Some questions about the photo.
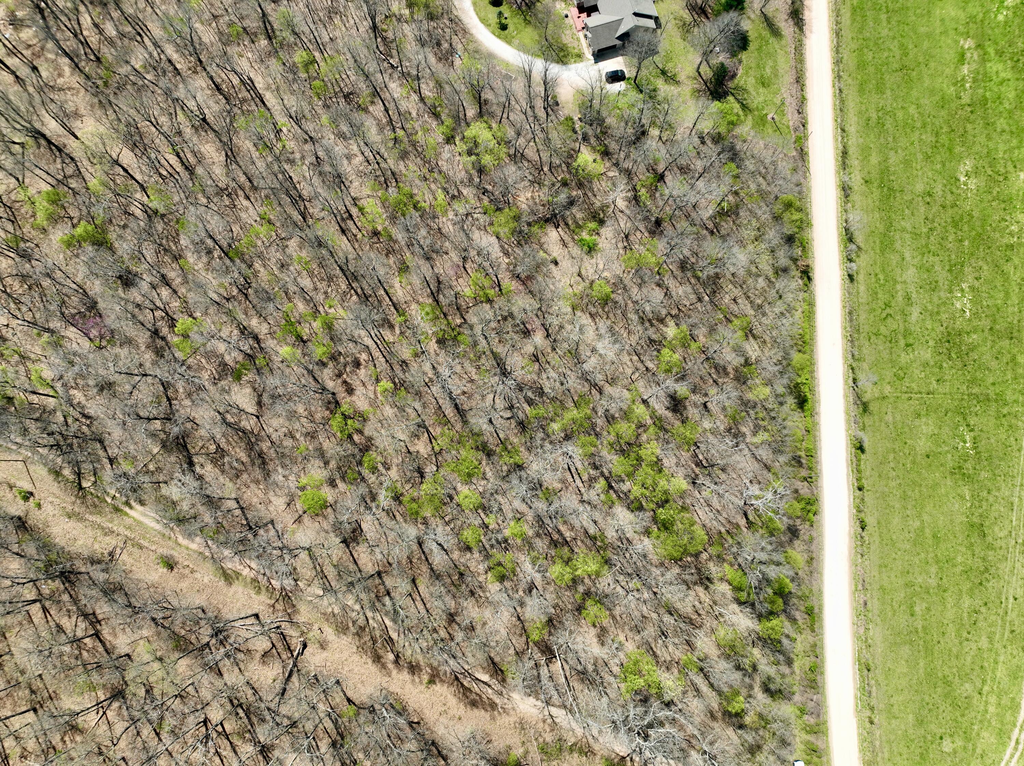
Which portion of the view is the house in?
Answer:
top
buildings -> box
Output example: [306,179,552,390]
[570,0,658,55]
